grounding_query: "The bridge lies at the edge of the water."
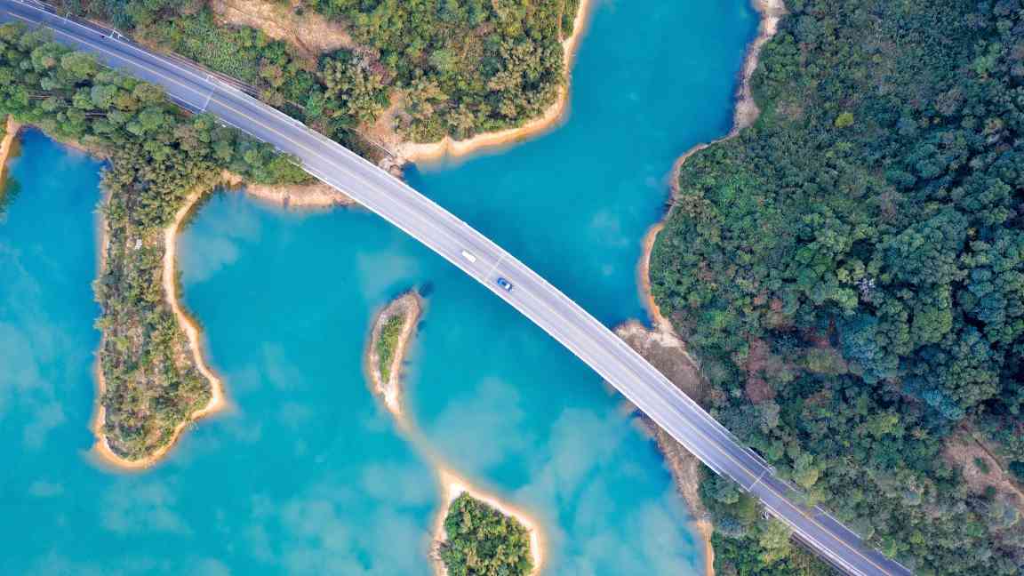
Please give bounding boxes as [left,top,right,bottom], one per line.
[203,77,770,489]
